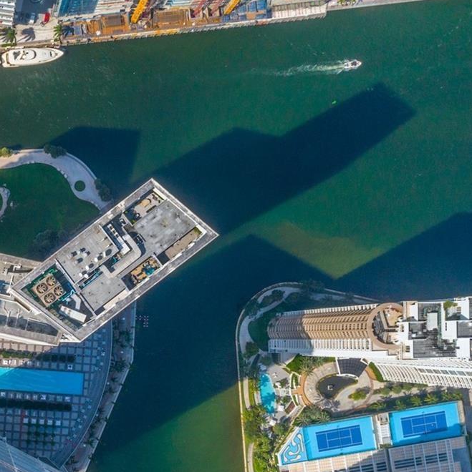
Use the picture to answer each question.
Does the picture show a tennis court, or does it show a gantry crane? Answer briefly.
tennis court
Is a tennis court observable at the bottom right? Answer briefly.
Yes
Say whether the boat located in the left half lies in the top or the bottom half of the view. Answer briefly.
top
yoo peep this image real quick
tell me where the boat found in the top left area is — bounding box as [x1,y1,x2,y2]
[0,47,65,69]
